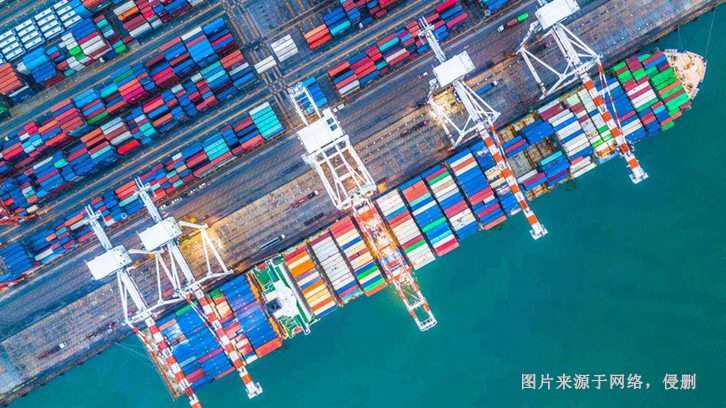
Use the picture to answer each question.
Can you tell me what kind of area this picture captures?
port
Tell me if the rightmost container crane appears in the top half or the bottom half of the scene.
top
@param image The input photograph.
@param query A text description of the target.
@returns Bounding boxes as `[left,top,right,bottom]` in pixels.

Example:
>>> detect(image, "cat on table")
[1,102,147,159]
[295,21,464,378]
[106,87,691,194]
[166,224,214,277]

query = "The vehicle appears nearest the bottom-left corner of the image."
[41,341,67,358]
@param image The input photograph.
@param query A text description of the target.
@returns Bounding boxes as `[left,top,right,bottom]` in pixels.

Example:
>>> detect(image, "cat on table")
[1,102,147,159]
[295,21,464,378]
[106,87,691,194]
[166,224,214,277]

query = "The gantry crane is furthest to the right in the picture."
[507,0,647,184]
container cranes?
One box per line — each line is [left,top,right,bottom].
[79,202,201,408]
[131,174,262,397]
[418,15,548,238]
[286,79,439,335]
[507,0,647,184]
